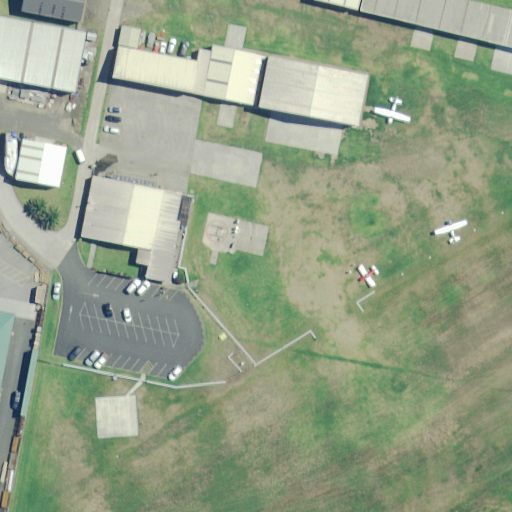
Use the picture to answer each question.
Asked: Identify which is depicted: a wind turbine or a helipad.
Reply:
helipad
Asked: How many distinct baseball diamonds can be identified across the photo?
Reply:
0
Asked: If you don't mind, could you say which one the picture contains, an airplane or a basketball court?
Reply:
airplane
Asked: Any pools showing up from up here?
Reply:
No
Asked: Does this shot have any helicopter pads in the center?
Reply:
Yes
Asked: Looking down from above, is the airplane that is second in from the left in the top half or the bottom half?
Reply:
top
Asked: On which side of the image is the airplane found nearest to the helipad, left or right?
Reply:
right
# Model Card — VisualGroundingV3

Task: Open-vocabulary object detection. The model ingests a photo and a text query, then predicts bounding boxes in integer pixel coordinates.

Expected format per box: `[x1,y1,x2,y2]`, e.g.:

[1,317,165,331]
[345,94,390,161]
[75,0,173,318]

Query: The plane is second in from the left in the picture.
[374,98,410,125]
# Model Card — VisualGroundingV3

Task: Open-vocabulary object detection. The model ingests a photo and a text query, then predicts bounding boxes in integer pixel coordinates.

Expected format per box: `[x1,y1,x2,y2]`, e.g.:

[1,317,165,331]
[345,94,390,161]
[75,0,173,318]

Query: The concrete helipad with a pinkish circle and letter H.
[203,212,268,264]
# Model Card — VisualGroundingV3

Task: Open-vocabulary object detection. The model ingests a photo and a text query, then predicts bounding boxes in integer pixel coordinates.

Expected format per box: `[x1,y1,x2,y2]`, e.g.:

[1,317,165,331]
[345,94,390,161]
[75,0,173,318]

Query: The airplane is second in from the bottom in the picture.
[434,219,468,242]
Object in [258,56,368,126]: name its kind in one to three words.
hangar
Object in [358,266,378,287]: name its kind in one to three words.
airplane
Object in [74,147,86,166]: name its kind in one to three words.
vehicle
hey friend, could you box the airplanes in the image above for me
[374,98,410,125]
[358,266,378,287]
[434,219,468,242]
